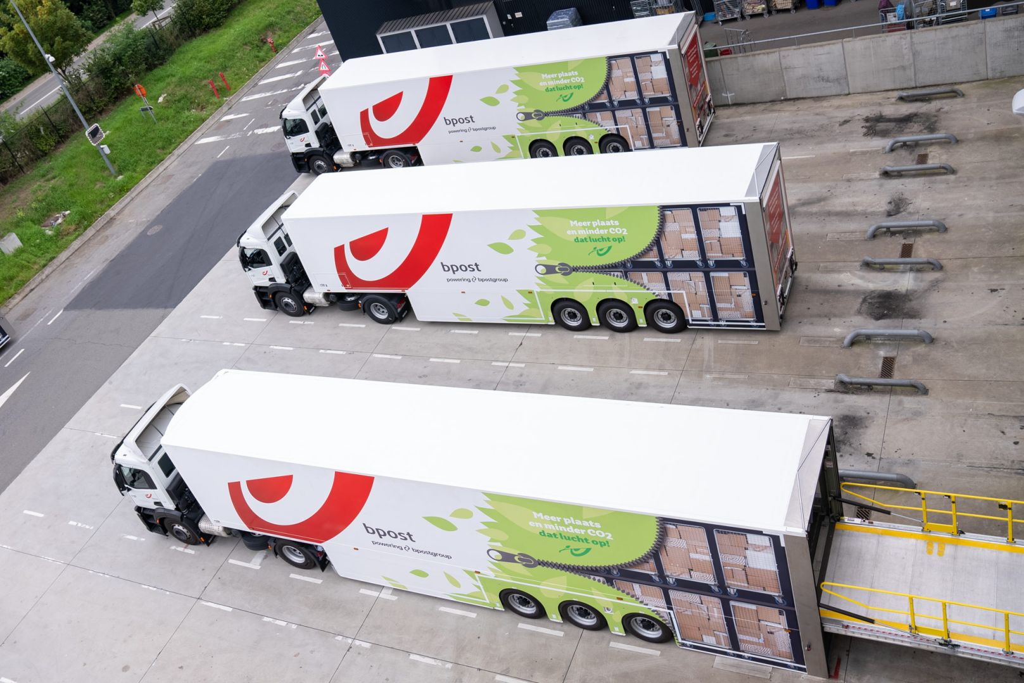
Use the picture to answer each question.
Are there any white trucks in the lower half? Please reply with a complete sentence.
Yes, a white truck appears in the lower half.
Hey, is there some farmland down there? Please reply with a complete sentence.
No, the scene doesn't show any farmland.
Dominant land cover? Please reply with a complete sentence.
For the most part, this view shows paved ground.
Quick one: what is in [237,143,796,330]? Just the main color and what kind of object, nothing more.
white truck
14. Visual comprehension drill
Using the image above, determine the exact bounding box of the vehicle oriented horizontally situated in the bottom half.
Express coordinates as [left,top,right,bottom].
[110,369,1024,683]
